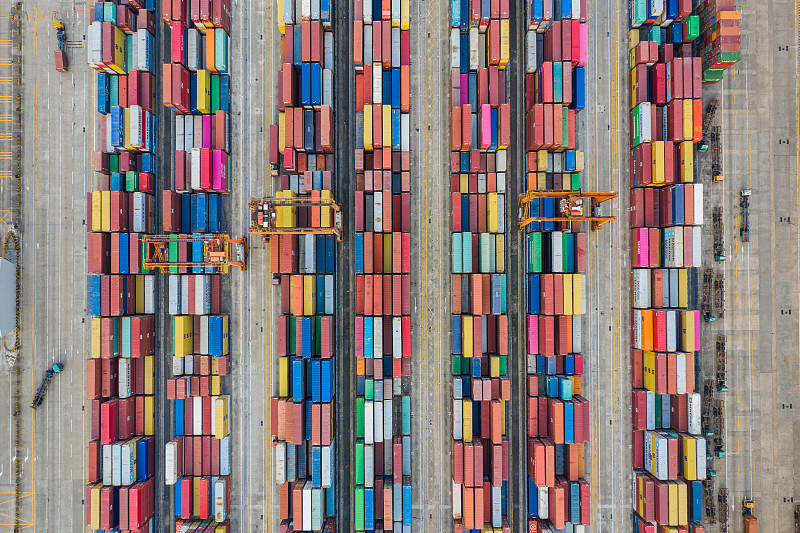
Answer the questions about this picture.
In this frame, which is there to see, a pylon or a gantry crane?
gantry crane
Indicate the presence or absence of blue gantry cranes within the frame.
No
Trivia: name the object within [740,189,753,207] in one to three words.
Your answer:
vehicle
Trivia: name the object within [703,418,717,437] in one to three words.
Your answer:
work vehicle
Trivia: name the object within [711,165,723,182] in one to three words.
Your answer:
vehicle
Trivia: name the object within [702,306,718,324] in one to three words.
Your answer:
work vehicle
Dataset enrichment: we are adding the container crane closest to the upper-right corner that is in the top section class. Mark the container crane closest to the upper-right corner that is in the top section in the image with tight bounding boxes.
[516,185,621,233]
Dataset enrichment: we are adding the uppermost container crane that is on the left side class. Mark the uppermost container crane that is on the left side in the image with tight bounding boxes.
[247,197,344,244]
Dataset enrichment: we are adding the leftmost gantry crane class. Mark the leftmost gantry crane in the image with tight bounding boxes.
[141,231,249,274]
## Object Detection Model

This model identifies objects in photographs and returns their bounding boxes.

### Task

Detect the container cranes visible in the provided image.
[247,197,344,244]
[516,185,621,233]
[141,231,249,274]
